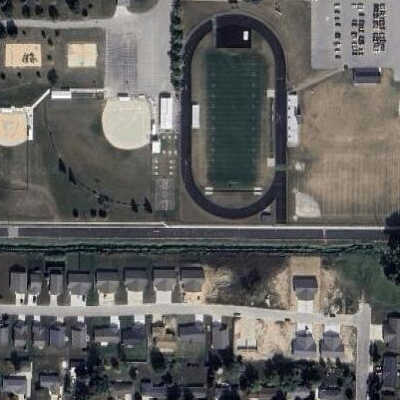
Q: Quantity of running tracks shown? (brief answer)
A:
one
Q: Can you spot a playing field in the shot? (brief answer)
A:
Yes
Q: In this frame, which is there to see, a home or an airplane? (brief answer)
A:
home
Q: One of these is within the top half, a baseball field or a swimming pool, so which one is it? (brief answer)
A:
baseball field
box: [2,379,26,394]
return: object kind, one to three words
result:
house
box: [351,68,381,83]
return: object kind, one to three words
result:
building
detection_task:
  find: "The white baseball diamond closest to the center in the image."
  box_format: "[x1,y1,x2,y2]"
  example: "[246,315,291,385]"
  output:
[101,97,152,150]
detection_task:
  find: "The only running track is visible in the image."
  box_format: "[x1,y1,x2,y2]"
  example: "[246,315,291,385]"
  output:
[179,11,288,222]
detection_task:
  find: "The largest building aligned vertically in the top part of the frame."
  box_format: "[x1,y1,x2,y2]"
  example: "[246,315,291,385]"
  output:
[158,100,172,132]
